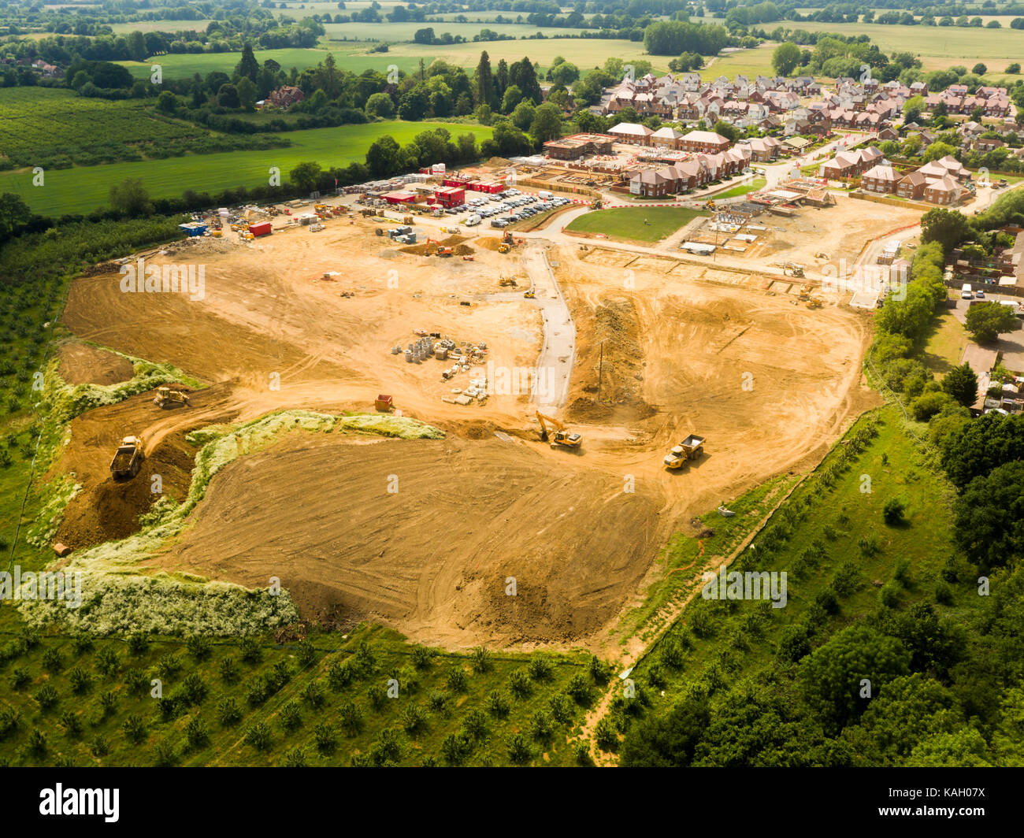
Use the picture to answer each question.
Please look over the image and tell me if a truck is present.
Yes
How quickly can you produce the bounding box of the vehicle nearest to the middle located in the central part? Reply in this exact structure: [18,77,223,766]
[528,408,583,453]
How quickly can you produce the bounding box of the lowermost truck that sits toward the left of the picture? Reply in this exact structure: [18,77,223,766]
[108,444,142,486]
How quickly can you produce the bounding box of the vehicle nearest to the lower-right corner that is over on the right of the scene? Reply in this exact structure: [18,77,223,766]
[663,437,711,472]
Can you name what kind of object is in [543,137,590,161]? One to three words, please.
house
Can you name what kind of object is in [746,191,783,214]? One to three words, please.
house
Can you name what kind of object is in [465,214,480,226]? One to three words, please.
vehicle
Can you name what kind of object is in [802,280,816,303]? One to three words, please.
work vehicle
